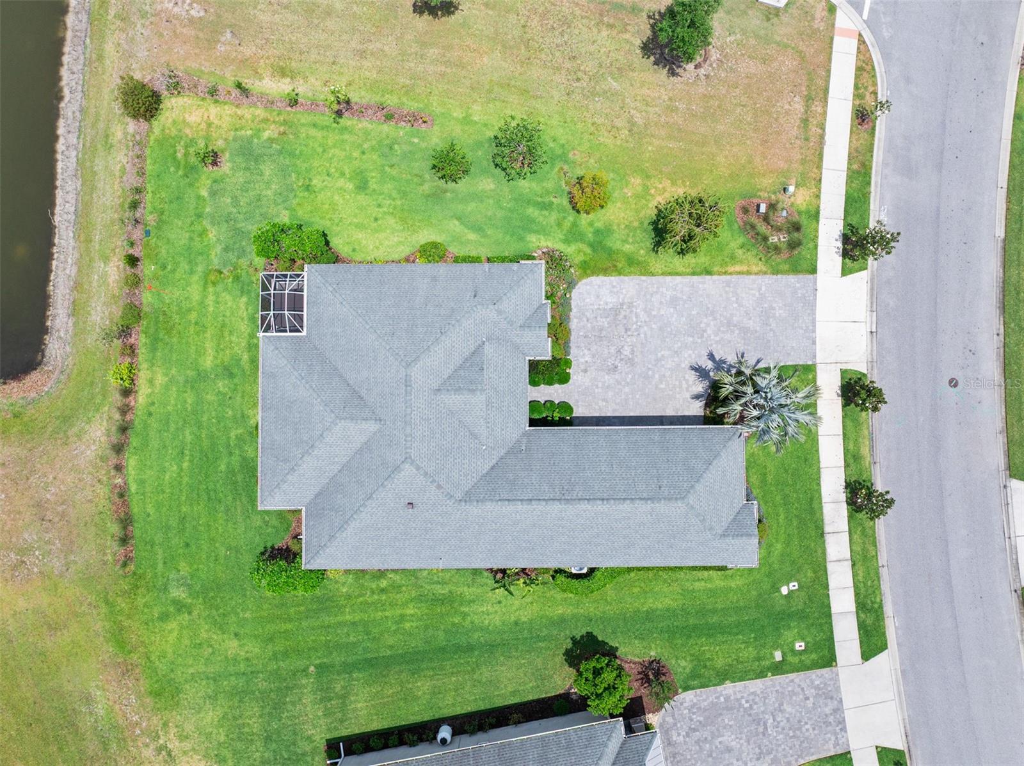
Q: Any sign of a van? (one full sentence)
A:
No, there isn't any van down there.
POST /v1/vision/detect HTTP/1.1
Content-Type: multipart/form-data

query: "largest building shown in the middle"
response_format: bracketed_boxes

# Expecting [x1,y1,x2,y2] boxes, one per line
[257,261,760,570]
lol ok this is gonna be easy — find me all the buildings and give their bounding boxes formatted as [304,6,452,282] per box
[257,261,760,570]
[327,707,667,766]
